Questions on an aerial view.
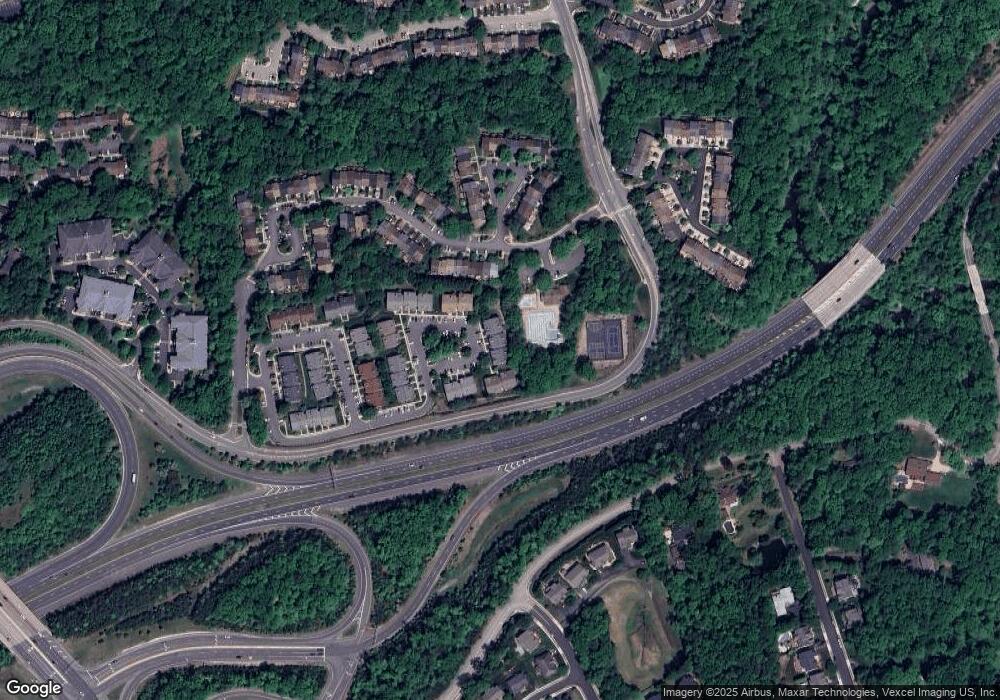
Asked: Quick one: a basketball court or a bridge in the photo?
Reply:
bridge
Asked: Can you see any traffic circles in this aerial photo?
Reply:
No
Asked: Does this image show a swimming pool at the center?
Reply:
Yes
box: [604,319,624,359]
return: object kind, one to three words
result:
tennis court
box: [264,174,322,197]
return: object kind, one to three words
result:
house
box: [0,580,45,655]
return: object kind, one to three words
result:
overpass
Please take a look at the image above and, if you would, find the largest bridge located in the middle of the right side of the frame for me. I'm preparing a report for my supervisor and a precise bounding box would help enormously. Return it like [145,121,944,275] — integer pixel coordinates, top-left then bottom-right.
[802,240,887,328]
